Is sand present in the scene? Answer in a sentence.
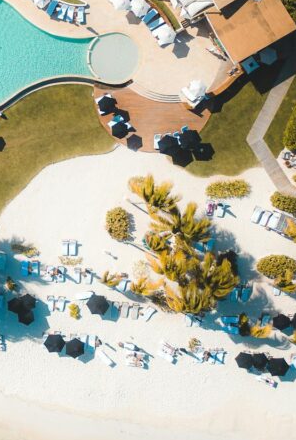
Yes, there is sand in the image.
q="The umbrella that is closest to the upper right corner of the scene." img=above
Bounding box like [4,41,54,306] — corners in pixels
[256,47,279,68]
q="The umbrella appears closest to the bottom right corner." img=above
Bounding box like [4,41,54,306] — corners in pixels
[269,356,289,378]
